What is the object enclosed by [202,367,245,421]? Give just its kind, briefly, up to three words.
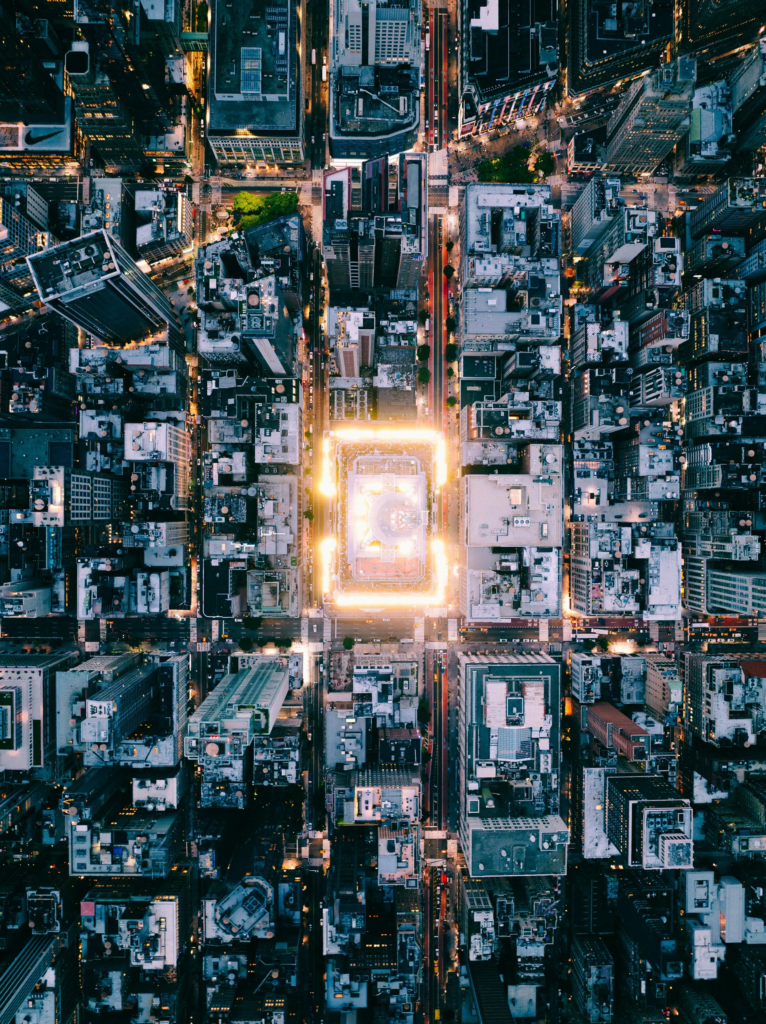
building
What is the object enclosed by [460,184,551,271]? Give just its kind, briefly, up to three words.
building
